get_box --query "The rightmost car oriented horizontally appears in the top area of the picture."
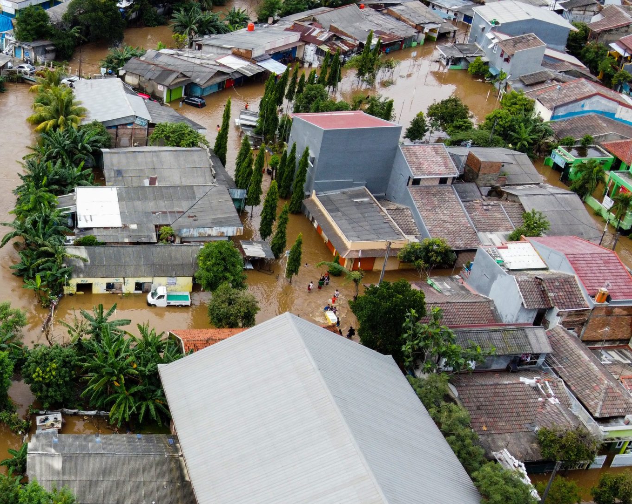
[179,95,211,108]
